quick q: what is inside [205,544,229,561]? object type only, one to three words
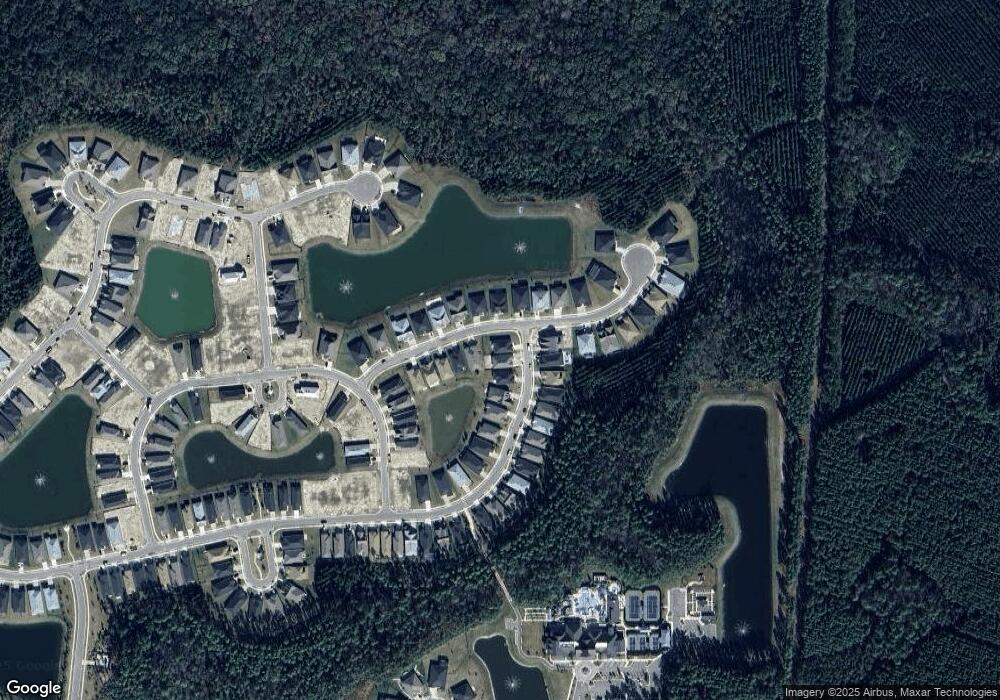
house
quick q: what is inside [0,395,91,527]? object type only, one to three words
pond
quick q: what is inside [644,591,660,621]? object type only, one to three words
tennis court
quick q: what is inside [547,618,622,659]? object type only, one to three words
building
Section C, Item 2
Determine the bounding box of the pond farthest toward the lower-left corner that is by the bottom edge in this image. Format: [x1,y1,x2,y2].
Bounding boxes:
[0,622,61,690]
